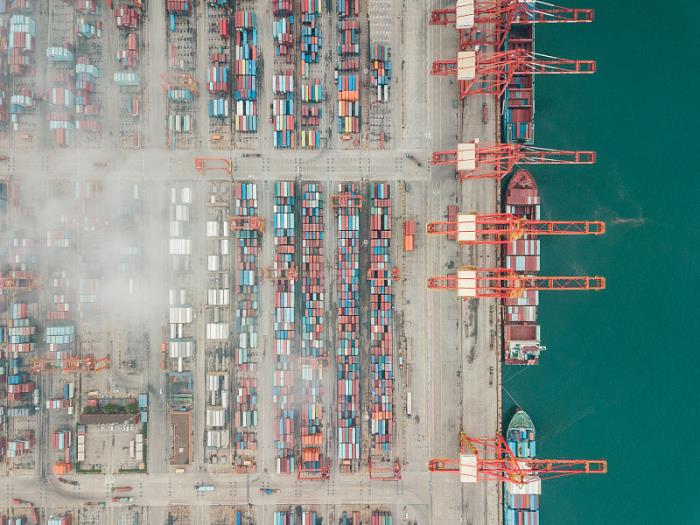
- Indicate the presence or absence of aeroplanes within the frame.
No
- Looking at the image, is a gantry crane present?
Yes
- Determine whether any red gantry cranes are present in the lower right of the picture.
Yes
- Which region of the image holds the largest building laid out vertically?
bottom left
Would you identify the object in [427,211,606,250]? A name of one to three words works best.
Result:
container crane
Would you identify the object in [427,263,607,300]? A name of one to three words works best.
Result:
container crane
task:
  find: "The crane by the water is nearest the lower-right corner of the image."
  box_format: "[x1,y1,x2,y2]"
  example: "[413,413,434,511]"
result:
[429,428,608,486]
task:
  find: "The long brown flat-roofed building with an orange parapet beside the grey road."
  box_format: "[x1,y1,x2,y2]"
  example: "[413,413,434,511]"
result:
[170,410,193,465]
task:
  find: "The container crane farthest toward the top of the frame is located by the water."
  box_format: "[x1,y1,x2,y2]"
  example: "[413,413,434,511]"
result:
[432,0,594,58]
